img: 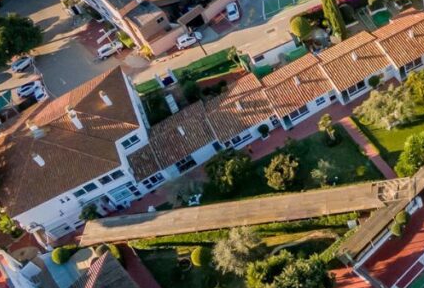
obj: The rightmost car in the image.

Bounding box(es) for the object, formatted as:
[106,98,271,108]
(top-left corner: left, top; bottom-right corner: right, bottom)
[225,1,240,23]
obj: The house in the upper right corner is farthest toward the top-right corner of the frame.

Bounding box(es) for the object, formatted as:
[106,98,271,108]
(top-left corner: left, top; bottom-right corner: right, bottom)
[372,11,424,83]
